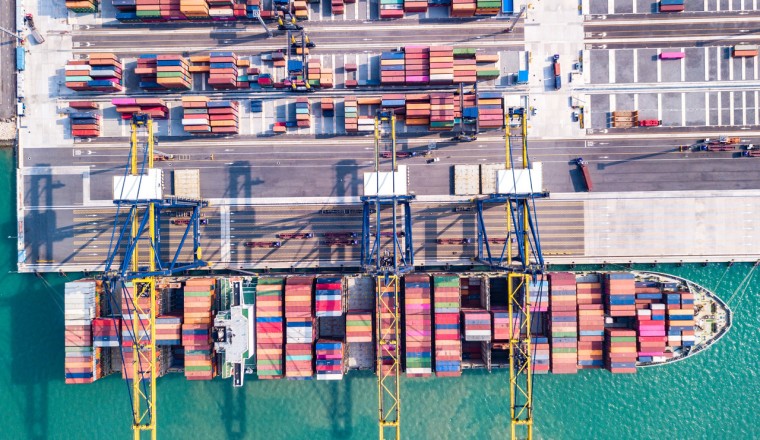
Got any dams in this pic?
No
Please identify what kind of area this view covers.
port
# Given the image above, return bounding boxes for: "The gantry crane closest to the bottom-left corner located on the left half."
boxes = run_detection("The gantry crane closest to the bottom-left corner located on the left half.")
[98,113,220,440]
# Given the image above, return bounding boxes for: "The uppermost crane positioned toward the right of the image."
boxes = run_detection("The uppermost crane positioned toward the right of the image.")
[449,78,479,141]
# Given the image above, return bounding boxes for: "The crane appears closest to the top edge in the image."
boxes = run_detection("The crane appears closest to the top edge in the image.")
[269,0,299,31]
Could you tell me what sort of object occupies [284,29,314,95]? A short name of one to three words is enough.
crane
